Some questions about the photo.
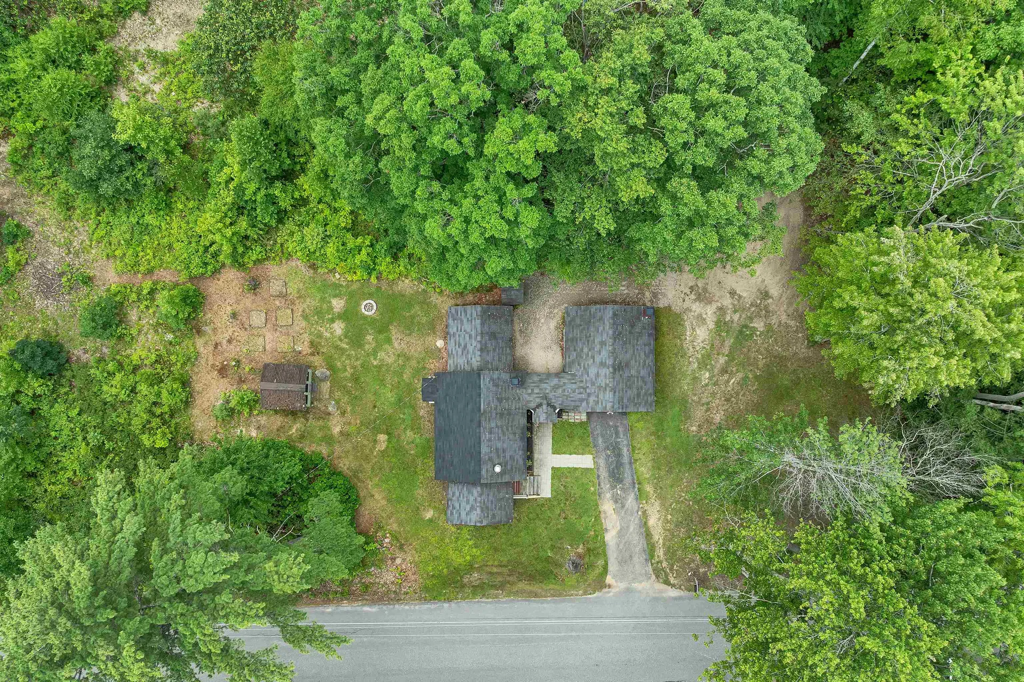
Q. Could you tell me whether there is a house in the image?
Yes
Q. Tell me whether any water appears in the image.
No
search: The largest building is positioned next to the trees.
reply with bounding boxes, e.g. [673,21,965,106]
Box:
[421,305,655,527]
